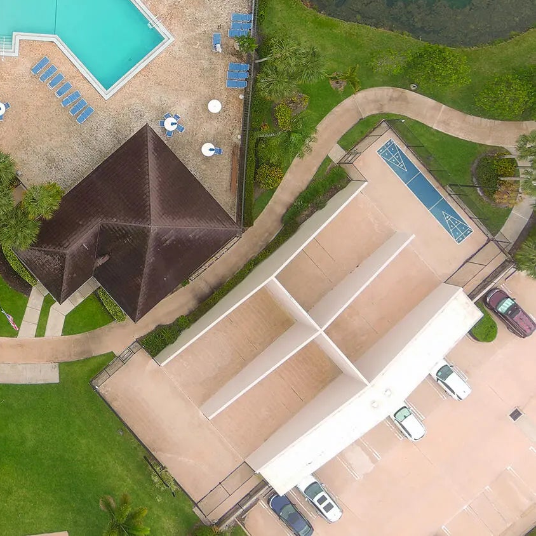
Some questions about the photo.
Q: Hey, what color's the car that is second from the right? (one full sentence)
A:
The car that is second from the right is white.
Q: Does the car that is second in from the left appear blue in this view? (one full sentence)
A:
No, from above the car that is second in from the left looks white.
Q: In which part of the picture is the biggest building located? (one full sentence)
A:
Look in the left portion of the view to spot the biggest building.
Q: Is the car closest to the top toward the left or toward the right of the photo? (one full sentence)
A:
The car closest to the top is on the right side of the image.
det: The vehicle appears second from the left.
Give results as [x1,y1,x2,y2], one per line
[295,474,343,523]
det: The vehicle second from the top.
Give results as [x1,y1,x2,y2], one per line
[427,358,471,401]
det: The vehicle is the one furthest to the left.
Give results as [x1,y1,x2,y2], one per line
[271,493,318,536]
